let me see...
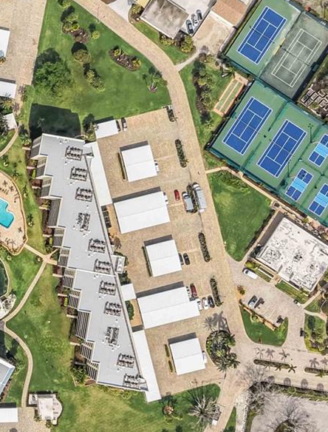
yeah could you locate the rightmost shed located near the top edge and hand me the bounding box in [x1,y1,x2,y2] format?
[209,0,247,28]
